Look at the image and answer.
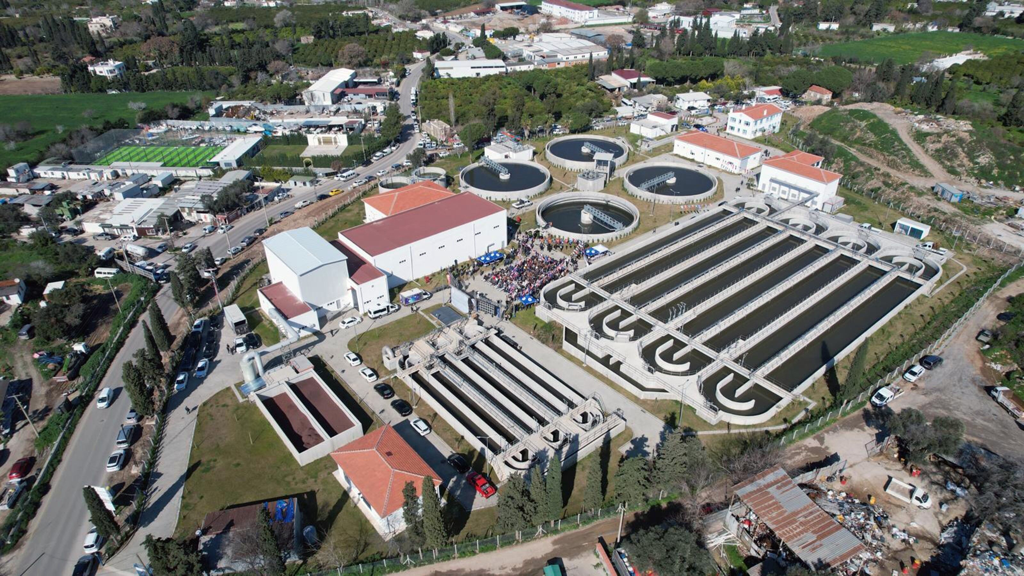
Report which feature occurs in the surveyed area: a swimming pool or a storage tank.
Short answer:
storage tank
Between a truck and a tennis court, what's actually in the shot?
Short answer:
truck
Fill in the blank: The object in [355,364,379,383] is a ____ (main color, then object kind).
white car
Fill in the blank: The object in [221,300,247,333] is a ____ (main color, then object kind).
white truck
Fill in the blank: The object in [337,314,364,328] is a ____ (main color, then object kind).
white car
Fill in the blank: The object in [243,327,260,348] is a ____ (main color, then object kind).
black car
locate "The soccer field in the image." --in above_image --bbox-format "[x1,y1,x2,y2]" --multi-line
[92,146,220,166]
